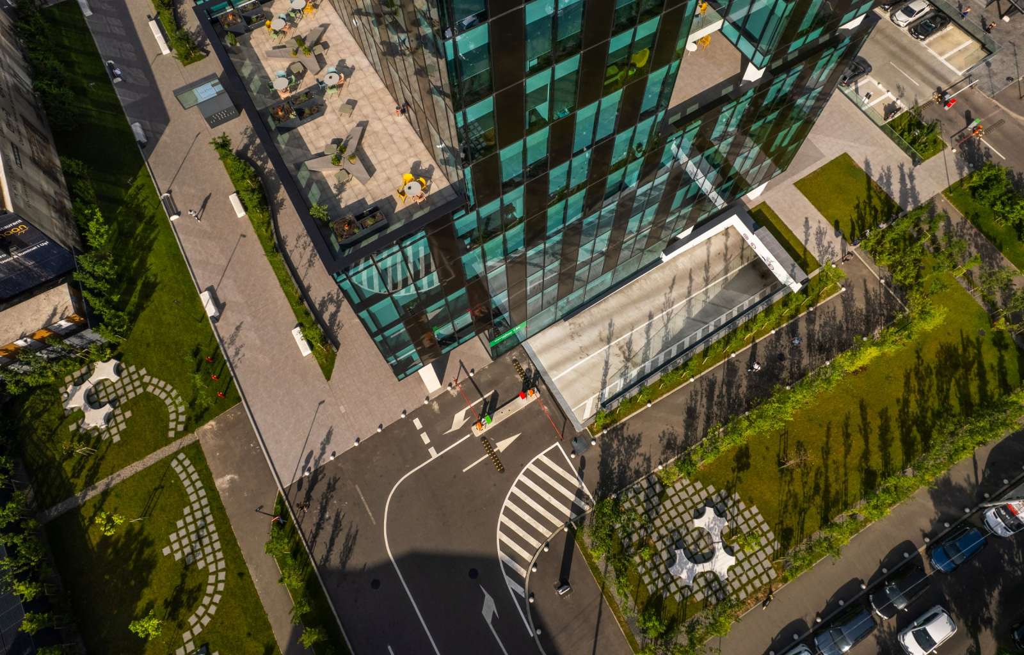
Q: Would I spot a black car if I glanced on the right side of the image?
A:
Yes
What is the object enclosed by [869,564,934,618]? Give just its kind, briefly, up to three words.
car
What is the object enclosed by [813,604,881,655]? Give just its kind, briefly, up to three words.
car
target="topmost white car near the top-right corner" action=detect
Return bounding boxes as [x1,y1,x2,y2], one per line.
[893,1,929,27]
